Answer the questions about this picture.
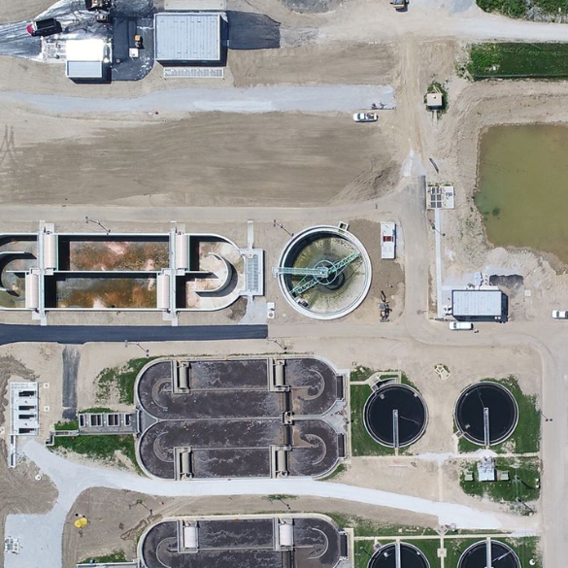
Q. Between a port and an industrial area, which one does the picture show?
industrial area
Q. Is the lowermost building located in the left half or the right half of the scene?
right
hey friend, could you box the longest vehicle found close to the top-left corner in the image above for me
[27,16,61,34]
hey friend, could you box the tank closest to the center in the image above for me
[272,221,373,319]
